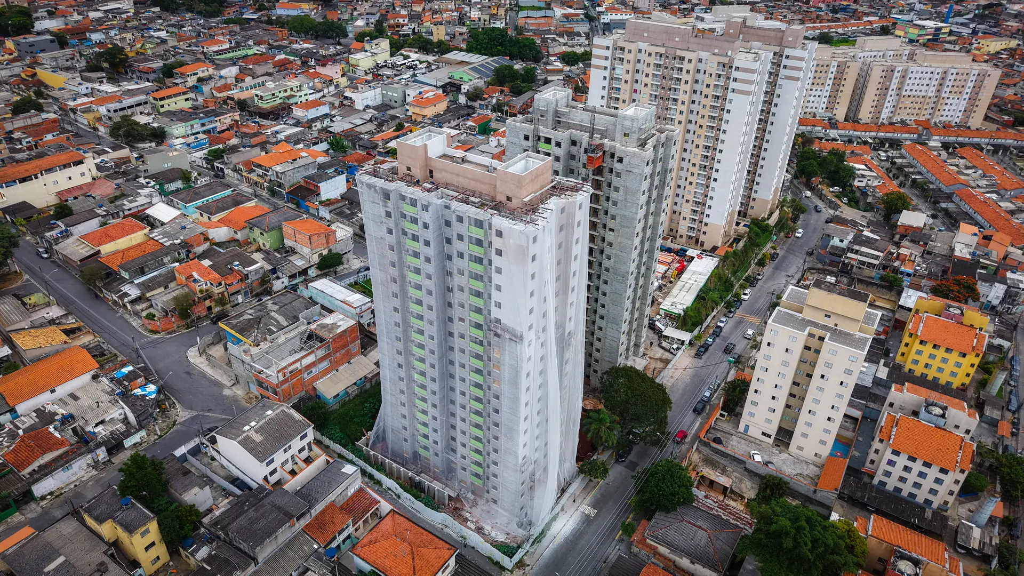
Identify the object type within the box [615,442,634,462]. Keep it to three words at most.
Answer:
car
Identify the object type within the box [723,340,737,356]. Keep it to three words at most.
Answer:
car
